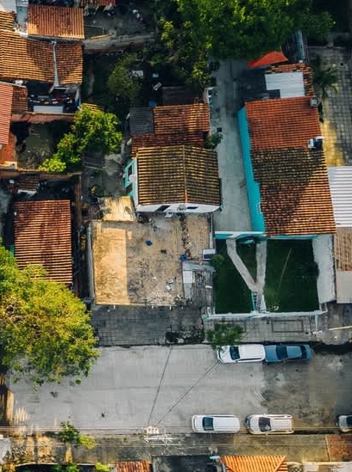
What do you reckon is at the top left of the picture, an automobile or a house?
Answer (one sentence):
You can see a house at the top left of the picture.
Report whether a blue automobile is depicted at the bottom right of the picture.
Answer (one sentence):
Yes, the scene does show a blue automobile at the bottom right of the picture.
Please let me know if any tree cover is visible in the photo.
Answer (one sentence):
Yes, the picture does contain tree cover.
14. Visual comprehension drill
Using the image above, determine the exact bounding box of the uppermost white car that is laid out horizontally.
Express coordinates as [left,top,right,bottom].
[214,344,265,364]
